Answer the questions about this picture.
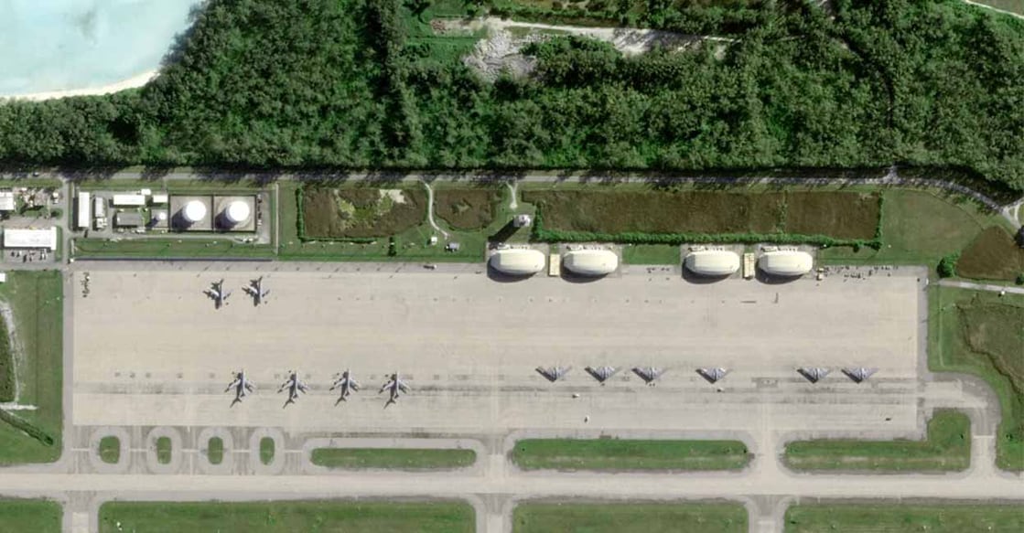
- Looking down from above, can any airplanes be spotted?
Yes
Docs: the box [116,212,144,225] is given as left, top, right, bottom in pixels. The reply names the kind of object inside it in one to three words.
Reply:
building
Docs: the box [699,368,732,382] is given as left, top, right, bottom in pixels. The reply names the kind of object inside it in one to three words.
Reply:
airplane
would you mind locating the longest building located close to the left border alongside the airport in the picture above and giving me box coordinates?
[2,227,58,251]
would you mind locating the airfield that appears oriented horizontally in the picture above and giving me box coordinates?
[0,243,1024,533]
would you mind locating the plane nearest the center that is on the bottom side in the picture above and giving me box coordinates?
[538,366,572,380]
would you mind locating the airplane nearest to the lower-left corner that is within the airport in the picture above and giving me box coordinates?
[230,370,257,398]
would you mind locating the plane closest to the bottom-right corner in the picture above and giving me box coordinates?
[844,367,876,381]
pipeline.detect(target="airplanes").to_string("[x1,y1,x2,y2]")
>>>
[538,366,572,380]
[384,372,410,400]
[283,371,310,399]
[634,367,667,381]
[209,278,235,307]
[335,369,362,398]
[230,370,257,398]
[844,367,876,381]
[247,275,274,304]
[799,367,832,382]
[587,367,620,381]
[699,368,732,382]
